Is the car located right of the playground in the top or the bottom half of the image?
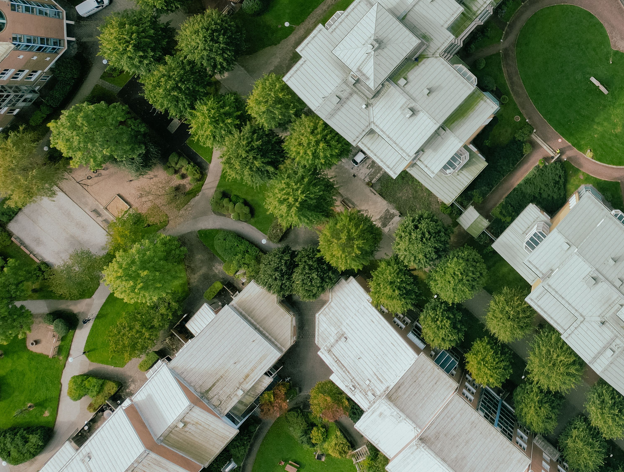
top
